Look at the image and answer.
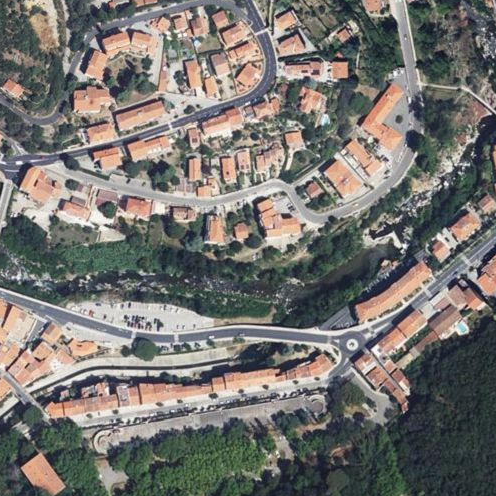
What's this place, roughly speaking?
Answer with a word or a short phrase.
residential area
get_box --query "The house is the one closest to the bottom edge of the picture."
[21,454,66,496]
